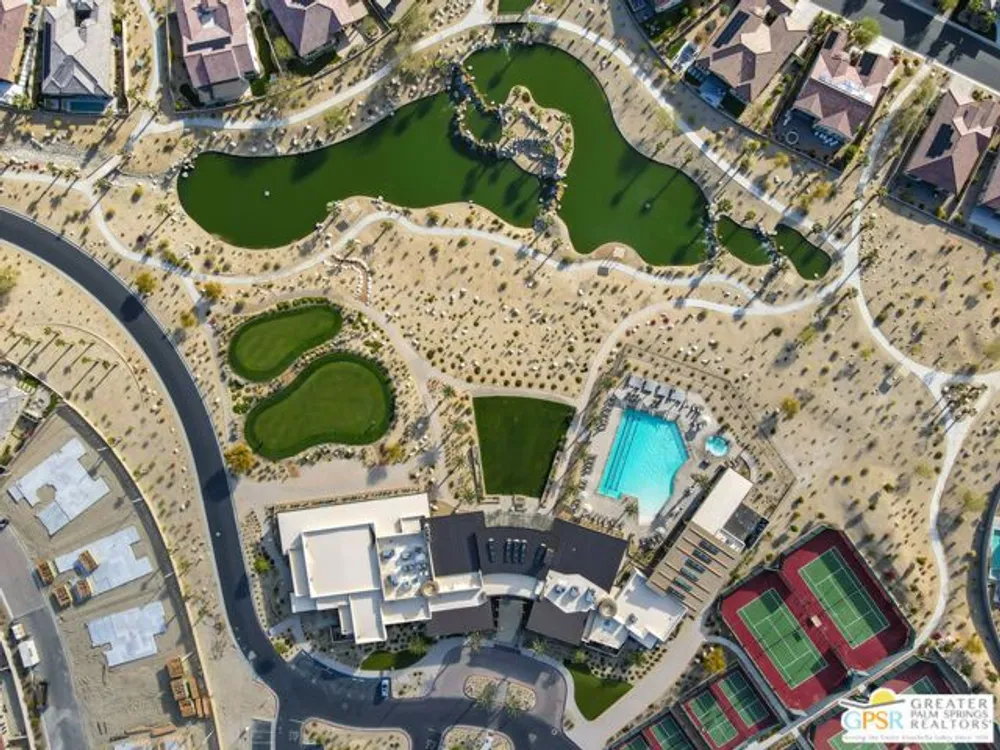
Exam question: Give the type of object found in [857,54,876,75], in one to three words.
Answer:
solar panel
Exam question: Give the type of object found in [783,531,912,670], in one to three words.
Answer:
tennis court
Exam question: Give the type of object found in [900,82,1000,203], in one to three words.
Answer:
house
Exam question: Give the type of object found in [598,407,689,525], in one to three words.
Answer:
swimming pool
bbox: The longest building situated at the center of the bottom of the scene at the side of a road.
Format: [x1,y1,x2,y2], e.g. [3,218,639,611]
[277,489,688,653]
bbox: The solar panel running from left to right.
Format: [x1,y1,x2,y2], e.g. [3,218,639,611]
[188,36,230,53]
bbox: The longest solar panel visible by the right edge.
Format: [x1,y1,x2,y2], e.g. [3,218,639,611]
[928,124,958,157]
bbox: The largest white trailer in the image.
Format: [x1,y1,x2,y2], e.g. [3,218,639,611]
[18,636,47,666]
